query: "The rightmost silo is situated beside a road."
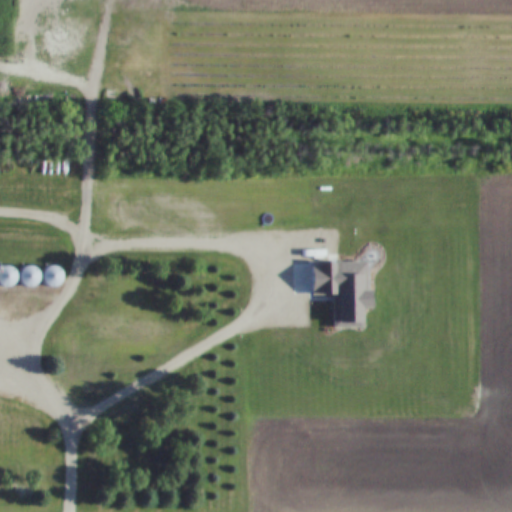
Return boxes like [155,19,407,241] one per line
[42,265,64,286]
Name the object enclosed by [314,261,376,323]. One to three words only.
house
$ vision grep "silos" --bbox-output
[42,265,64,286]
[0,265,18,286]
[19,265,42,286]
